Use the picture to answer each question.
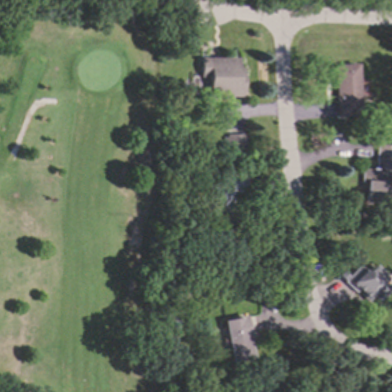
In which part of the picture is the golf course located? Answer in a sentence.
The golf course sits in the left section of the image.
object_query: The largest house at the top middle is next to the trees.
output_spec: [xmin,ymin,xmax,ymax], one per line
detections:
[204,56,249,96]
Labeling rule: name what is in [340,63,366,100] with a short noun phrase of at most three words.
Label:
house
